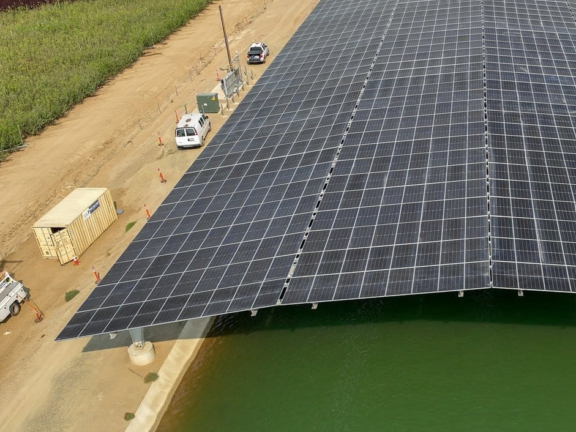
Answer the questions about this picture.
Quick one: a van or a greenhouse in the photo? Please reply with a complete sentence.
I can see a van in this picture.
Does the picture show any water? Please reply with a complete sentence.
Yes, the picture does contain water.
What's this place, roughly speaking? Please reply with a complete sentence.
This looks like a solar farm.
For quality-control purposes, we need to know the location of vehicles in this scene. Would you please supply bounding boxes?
[0,275,26,319]
[247,41,271,62]
[180,112,214,145]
